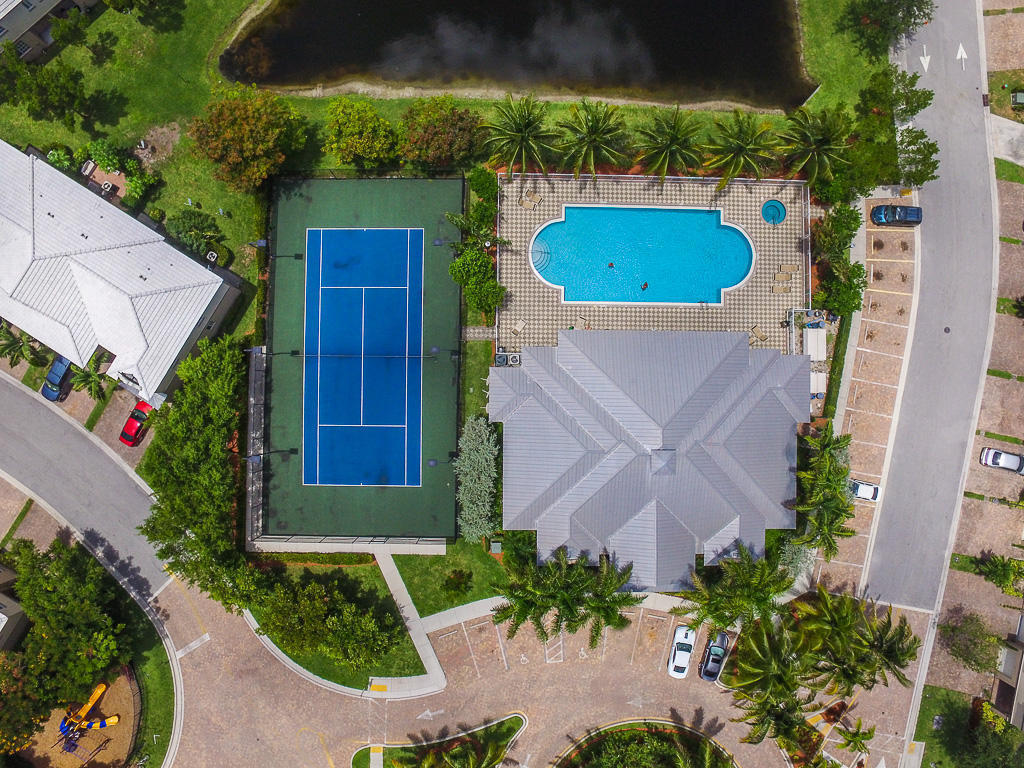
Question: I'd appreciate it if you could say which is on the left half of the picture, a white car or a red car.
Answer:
red car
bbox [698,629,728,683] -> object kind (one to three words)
car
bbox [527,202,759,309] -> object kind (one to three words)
swimming pool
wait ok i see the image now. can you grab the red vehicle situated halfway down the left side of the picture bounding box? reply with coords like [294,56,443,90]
[116,398,158,450]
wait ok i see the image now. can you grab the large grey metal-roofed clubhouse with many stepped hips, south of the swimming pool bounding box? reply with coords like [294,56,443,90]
[480,329,811,595]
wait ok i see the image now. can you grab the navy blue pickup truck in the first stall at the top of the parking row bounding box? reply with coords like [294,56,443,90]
[868,202,924,228]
